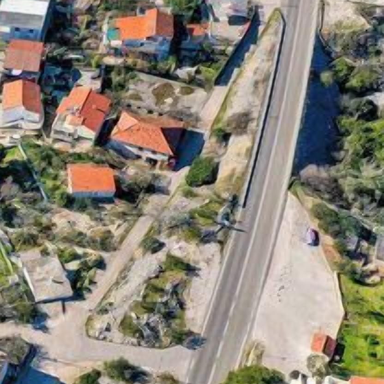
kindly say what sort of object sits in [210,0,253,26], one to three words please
building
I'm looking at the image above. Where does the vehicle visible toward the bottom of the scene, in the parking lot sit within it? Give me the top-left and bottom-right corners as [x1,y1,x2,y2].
[306,228,319,248]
